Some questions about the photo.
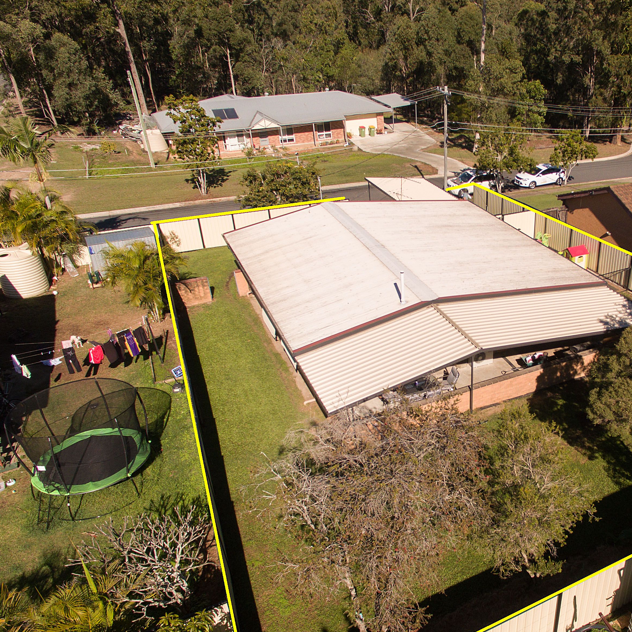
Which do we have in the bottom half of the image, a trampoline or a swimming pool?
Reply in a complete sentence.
It is a trampoline that can be seen in the bottom half of the image.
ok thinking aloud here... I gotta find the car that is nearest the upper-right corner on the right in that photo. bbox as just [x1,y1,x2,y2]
[514,163,565,189]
